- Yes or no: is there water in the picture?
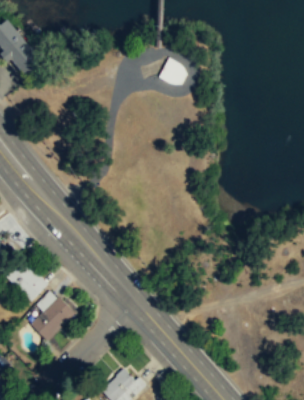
Yes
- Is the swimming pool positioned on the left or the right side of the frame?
left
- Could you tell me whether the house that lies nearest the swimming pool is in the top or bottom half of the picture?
bottom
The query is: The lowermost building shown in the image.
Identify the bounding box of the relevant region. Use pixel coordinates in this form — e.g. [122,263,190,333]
[105,370,147,400]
